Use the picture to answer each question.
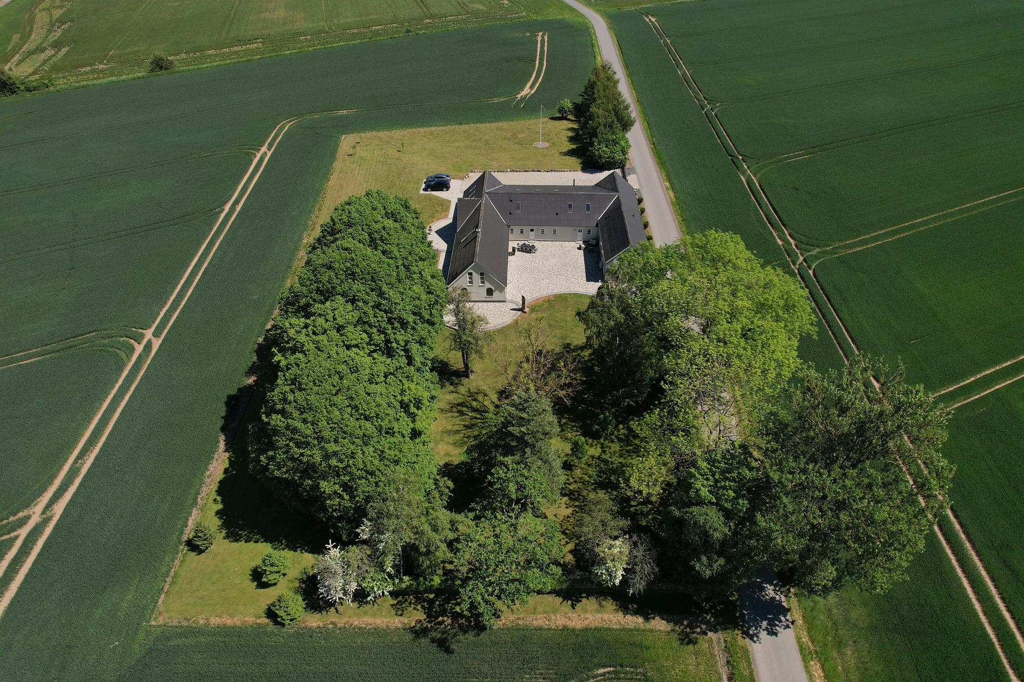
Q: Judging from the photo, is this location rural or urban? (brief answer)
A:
rural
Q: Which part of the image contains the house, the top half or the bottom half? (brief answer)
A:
top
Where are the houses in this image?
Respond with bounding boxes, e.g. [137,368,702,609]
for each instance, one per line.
[446,170,651,301]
